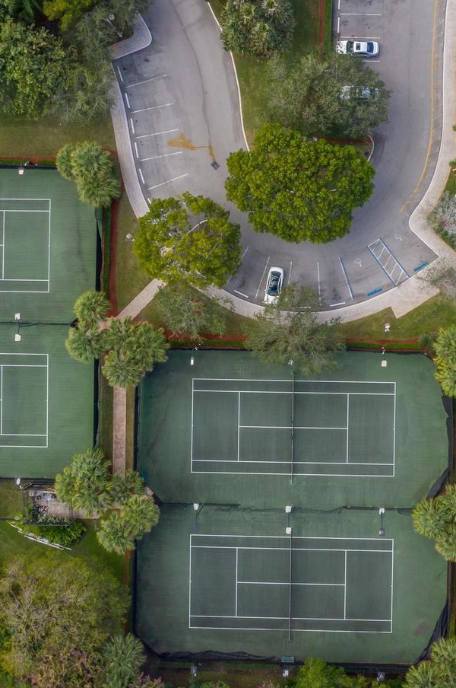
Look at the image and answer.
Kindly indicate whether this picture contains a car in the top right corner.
Yes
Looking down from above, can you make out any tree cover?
Yes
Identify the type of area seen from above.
sports ground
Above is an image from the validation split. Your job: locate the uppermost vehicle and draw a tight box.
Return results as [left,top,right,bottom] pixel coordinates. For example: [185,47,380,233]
[337,38,379,58]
